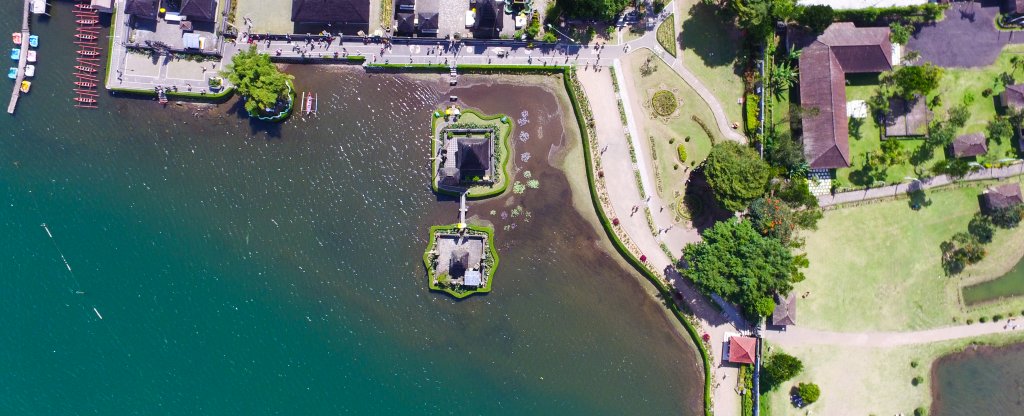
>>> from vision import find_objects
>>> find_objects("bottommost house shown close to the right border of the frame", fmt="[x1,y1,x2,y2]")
[976,184,1024,217]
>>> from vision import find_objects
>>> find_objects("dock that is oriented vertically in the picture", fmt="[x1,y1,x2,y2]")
[6,0,29,112]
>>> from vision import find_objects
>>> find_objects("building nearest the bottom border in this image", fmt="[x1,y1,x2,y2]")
[728,336,756,363]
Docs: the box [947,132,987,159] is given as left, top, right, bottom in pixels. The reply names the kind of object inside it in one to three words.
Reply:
house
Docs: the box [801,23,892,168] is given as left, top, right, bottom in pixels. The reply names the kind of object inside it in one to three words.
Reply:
house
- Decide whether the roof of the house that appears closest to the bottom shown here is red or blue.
red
